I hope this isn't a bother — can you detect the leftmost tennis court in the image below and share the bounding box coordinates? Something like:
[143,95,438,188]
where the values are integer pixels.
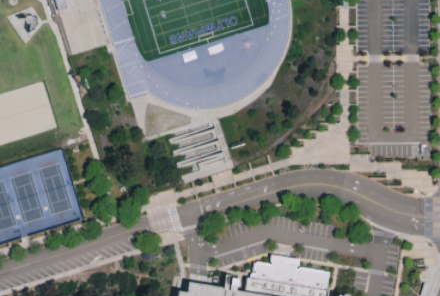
[0,182,15,232]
